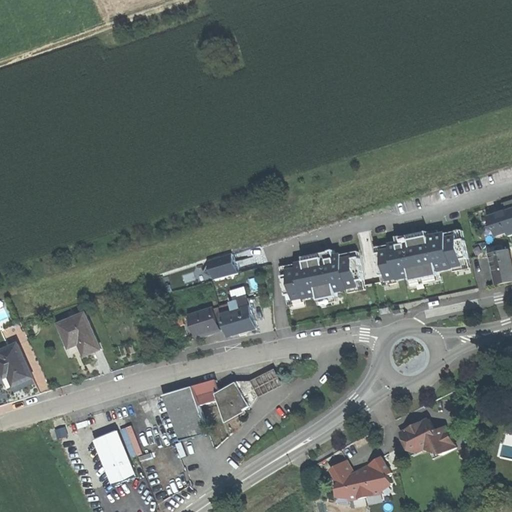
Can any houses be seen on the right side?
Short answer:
Yes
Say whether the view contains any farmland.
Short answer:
Yes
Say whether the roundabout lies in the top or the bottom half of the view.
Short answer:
bottom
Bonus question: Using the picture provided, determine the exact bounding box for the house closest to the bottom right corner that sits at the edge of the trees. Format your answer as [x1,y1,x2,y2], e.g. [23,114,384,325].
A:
[399,418,456,458]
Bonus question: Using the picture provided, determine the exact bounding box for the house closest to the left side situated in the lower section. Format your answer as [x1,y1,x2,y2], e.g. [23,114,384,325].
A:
[0,342,34,391]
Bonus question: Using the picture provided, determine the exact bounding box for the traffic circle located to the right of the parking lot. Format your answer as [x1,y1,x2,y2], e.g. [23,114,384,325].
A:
[378,324,442,389]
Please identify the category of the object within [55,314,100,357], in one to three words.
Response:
house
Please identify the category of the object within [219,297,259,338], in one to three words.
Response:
house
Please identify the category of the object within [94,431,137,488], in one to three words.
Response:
building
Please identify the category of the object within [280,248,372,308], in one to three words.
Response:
building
